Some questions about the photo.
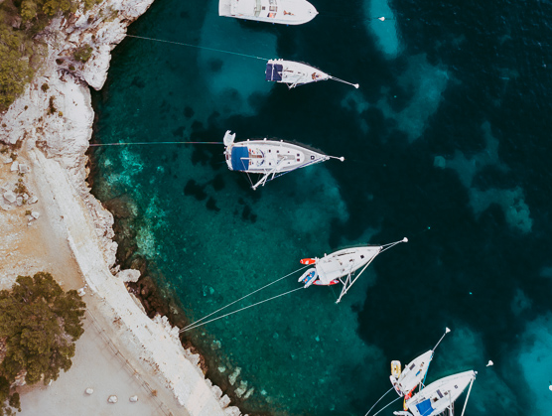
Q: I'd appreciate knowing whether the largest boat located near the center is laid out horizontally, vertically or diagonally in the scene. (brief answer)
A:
horizontally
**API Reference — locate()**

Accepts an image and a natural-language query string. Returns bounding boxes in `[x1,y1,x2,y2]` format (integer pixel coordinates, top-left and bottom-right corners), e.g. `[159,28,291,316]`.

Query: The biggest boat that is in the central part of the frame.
[224,139,331,192]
